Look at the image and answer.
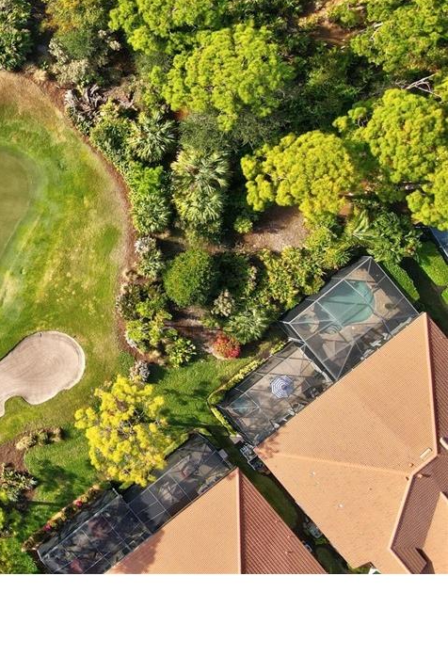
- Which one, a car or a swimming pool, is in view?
swimming pool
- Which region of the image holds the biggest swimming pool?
right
